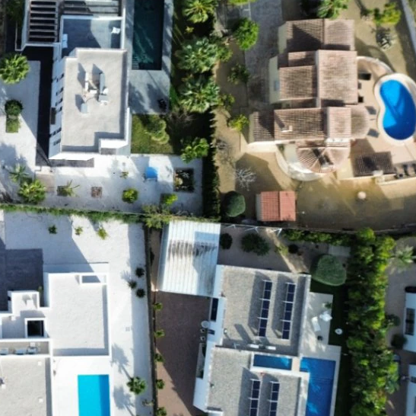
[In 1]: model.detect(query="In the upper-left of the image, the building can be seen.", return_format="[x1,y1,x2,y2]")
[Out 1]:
[18,0,128,158]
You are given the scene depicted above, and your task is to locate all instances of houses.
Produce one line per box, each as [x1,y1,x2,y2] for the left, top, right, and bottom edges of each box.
[399,290,416,416]
[0,272,111,416]
[18,0,128,158]
[241,19,394,179]
[197,265,311,416]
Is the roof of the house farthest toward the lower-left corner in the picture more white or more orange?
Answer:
white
